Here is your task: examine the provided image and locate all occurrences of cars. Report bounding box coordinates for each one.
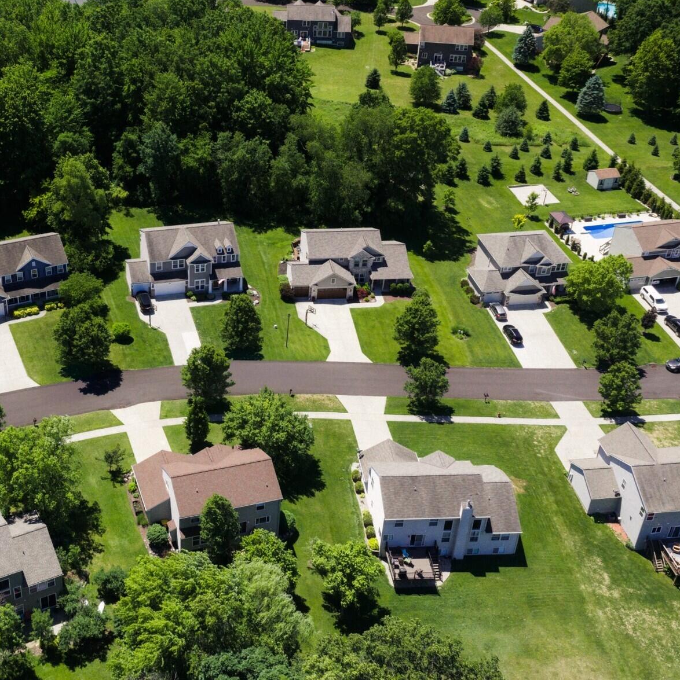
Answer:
[667,357,680,374]
[136,291,152,310]
[502,324,527,343]
[666,315,680,335]
[487,301,508,319]
[643,282,667,306]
